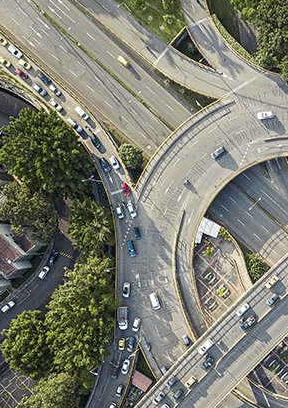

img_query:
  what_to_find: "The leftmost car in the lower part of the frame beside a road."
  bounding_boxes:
[1,300,16,313]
